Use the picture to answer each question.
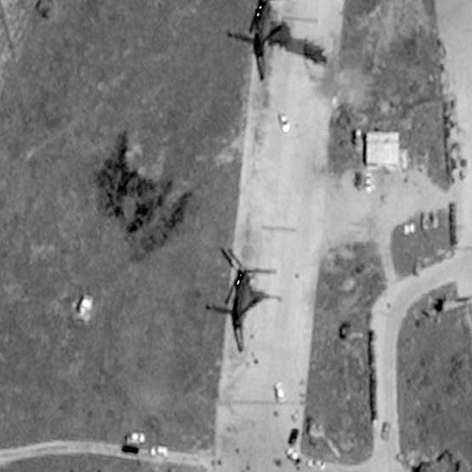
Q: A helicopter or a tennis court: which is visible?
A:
helicopter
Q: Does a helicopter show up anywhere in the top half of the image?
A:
Yes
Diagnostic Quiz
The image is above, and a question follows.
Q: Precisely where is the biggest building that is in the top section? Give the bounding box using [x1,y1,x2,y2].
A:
[366,131,400,173]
